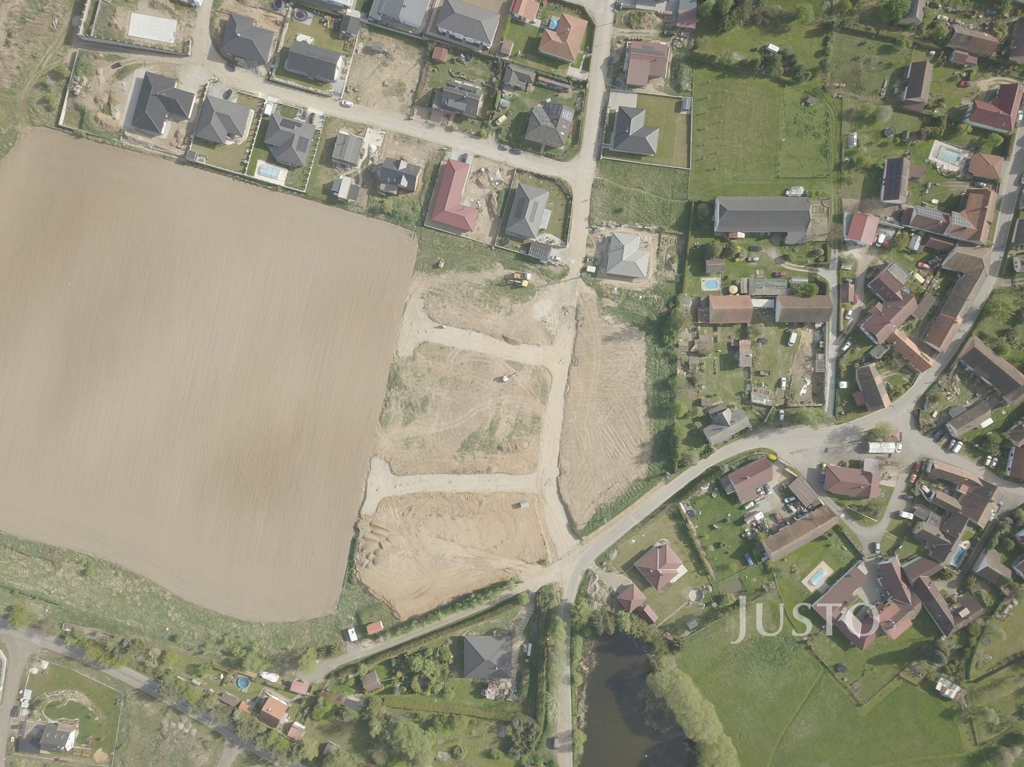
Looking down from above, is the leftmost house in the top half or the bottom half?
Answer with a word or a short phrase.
bottom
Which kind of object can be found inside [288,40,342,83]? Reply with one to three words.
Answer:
house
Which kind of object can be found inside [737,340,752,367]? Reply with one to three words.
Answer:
shed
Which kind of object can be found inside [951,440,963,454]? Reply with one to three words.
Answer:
vehicle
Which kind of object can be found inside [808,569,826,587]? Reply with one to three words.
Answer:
swimming pool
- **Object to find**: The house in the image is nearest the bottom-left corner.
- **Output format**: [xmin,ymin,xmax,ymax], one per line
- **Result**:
[19,720,82,756]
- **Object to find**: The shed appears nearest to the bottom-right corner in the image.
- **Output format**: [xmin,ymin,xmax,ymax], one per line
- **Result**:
[932,677,966,701]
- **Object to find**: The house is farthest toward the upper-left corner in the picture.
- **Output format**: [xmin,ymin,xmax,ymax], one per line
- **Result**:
[131,71,198,134]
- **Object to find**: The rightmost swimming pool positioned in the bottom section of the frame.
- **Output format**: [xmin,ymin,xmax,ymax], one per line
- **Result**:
[948,542,967,571]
